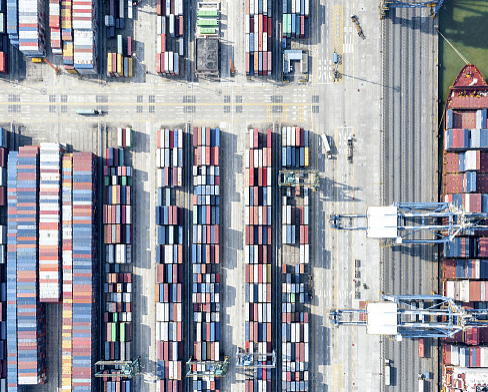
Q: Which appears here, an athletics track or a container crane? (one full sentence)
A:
Looking from above, you can make out a container crane.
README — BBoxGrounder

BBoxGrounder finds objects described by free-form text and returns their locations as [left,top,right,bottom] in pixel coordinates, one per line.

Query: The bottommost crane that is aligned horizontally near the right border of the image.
[331,289,488,340]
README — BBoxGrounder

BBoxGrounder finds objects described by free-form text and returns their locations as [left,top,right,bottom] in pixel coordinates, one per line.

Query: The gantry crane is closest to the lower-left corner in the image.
[94,354,148,378]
